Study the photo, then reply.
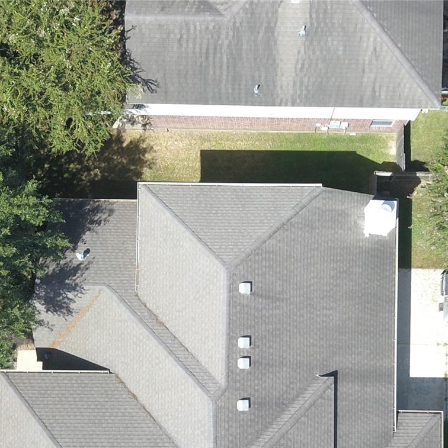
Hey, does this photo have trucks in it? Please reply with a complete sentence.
No, the frame has no truck in it.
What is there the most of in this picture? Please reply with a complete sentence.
The bulk of the photo consists of buildings.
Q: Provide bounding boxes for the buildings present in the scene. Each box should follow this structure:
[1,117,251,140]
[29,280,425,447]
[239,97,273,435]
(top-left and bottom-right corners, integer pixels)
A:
[0,181,446,448]
[121,0,444,135]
